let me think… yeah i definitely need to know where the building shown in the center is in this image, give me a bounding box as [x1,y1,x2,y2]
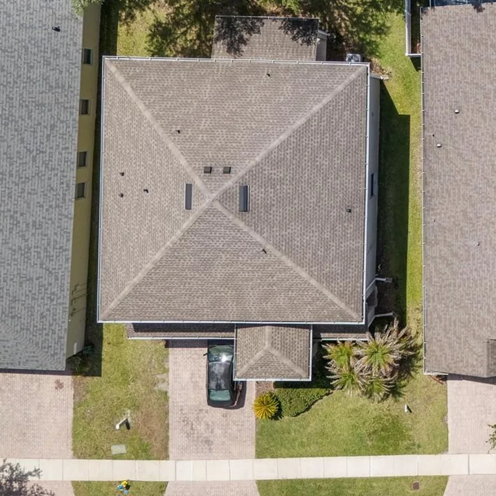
[97,14,409,379]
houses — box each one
[0,0,104,372]
[420,2,496,383]
[97,14,409,379]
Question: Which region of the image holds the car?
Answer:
bottom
